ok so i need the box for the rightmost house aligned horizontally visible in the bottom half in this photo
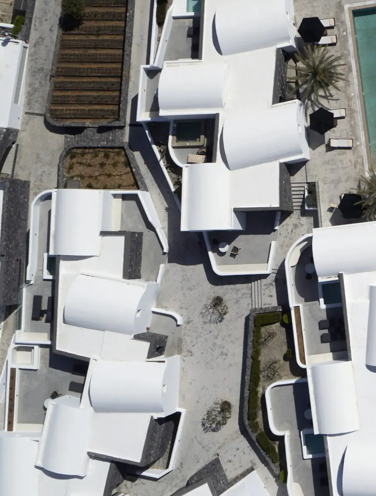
[221,467,286,496]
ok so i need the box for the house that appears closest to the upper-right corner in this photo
[156,0,316,231]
